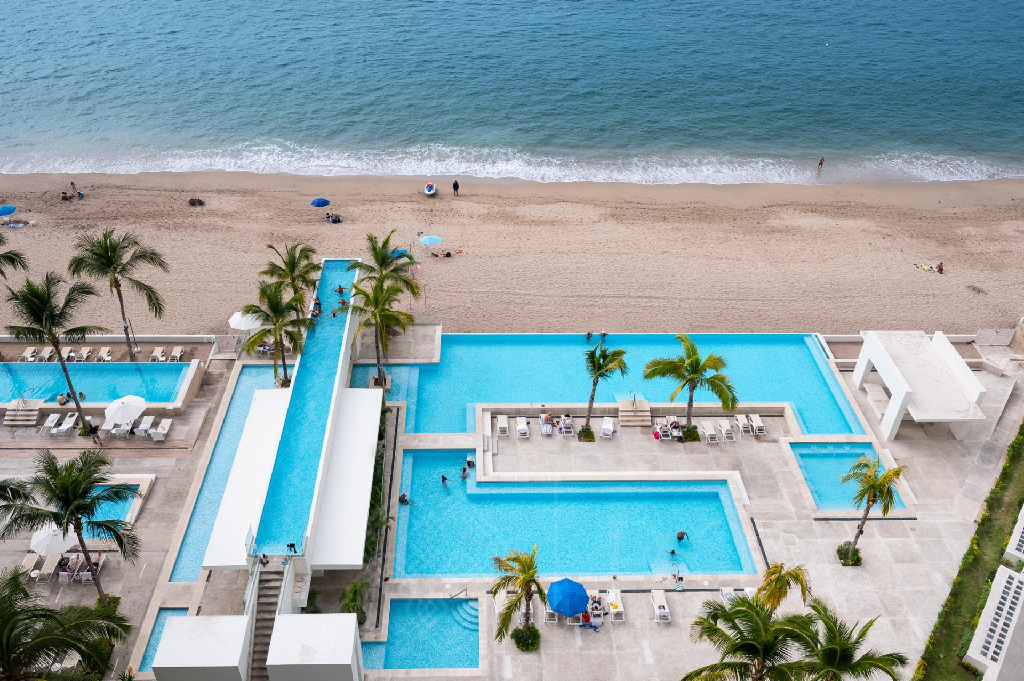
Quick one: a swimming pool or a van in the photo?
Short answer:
swimming pool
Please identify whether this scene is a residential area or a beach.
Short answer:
beach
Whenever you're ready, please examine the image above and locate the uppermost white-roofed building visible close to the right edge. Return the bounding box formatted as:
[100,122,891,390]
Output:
[853,331,987,440]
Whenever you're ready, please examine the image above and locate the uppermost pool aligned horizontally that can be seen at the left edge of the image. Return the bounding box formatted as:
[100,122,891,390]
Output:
[0,359,203,415]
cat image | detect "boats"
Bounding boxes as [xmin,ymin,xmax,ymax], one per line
[424,181,436,197]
